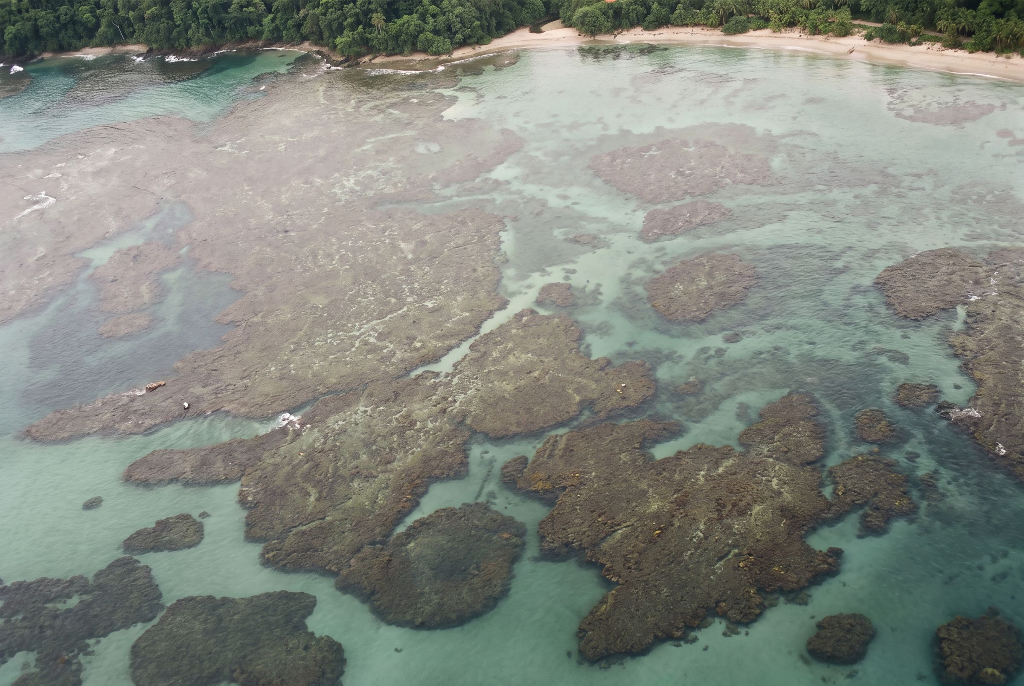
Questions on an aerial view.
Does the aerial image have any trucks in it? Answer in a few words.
No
